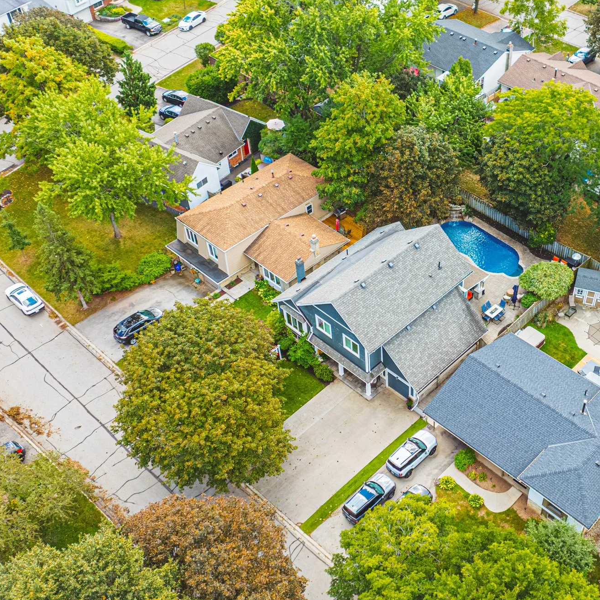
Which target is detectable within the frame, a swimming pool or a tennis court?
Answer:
swimming pool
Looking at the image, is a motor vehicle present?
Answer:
Yes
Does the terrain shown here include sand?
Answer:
No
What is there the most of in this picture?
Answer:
trees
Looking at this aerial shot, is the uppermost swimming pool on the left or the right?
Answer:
right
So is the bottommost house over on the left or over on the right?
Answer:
right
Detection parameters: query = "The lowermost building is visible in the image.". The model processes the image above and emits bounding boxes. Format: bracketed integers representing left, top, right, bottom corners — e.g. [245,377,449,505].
[422,332,600,538]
